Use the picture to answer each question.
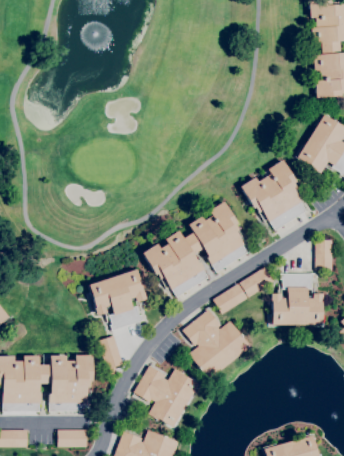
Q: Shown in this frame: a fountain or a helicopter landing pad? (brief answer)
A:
fountain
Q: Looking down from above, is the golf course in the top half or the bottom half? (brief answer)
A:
top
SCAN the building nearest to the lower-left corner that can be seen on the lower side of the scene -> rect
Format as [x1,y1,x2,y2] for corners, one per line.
[0,429,28,448]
